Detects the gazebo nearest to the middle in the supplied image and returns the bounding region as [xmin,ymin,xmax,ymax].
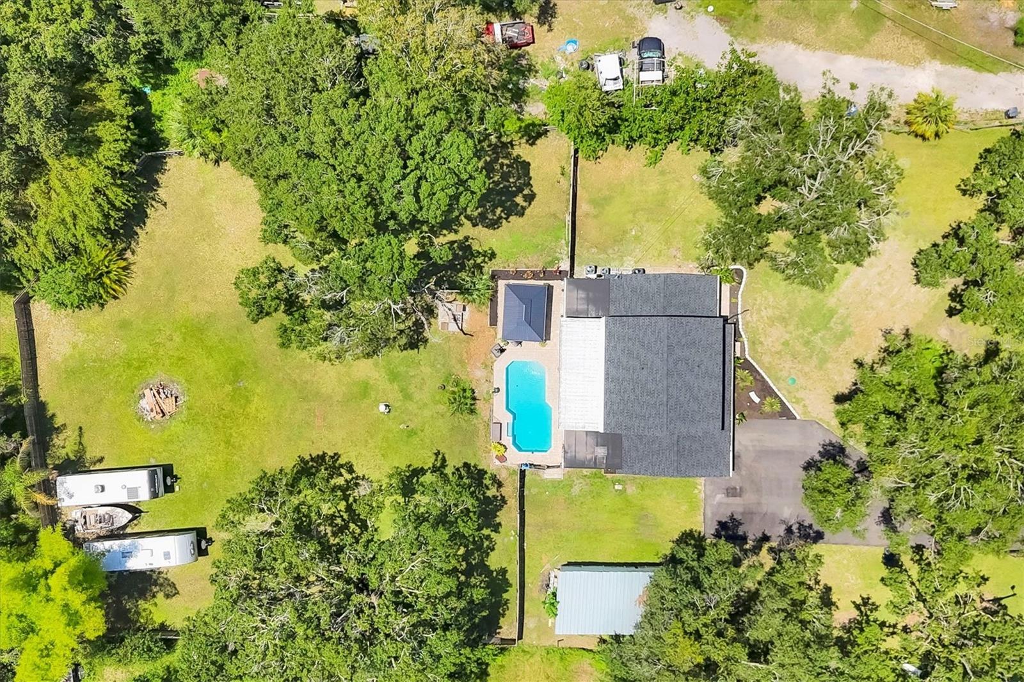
[502,284,549,341]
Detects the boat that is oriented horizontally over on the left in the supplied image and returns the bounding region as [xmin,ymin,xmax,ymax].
[64,507,141,535]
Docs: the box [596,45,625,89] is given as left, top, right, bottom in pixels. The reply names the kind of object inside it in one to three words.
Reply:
van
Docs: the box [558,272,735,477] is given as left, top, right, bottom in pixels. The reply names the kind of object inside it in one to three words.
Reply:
house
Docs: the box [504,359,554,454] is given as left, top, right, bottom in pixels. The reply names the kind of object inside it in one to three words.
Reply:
swimming pool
